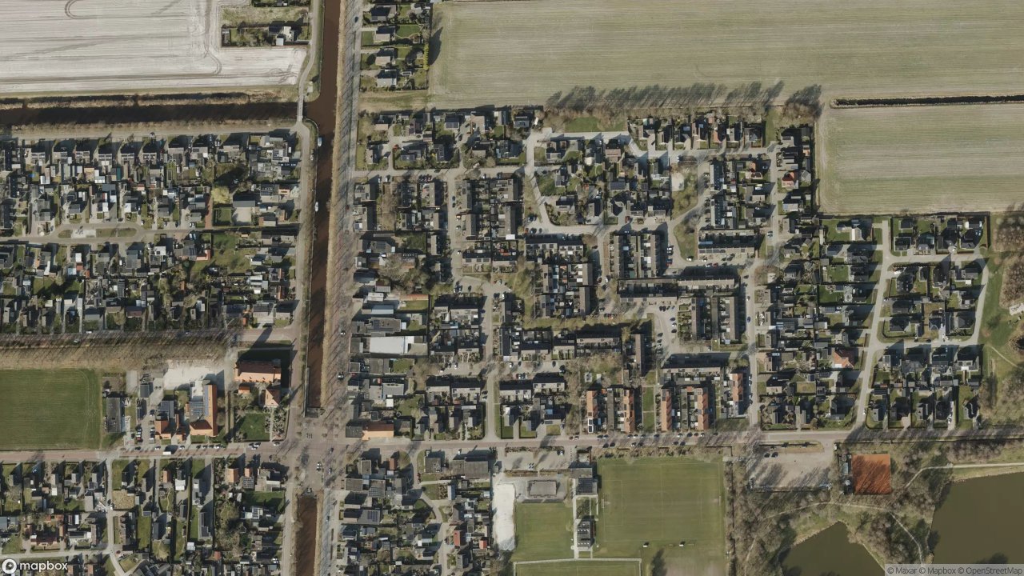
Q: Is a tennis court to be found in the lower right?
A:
Yes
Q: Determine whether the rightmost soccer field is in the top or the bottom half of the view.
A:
bottom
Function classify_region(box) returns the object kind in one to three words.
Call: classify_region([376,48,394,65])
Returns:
house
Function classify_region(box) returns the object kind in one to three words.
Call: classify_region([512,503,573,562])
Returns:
sports field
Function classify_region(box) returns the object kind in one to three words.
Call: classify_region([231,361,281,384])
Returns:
building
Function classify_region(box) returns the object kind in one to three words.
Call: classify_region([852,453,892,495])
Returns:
tennis court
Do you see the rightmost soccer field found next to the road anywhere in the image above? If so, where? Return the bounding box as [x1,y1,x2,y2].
[593,456,726,576]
